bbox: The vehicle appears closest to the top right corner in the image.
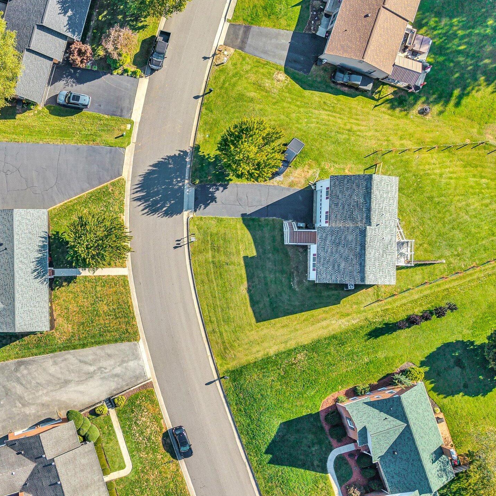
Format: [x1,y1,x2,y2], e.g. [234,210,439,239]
[330,67,374,90]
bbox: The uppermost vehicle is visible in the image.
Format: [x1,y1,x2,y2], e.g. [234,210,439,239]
[150,27,175,71]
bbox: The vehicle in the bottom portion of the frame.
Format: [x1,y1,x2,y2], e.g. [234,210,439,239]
[172,425,192,459]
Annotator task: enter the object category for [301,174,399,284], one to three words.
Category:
house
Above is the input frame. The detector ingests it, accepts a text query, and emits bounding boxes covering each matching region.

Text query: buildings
[0,209,50,332]
[333,380,458,496]
[301,174,399,284]
[0,415,109,496]
[0,0,92,106]
[317,0,420,78]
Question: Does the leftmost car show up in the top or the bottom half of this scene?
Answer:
top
